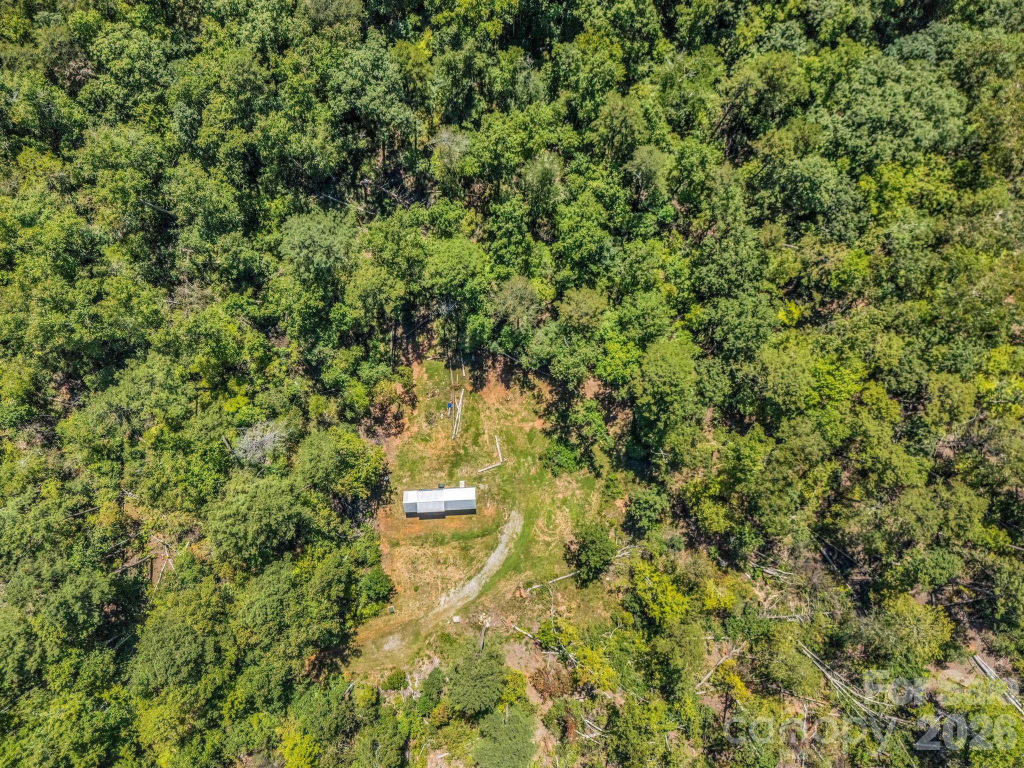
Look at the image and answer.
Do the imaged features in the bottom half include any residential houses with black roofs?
No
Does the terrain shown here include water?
No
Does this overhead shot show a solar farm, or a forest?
forest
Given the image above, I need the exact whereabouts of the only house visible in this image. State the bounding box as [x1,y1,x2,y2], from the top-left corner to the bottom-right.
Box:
[403,487,477,514]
